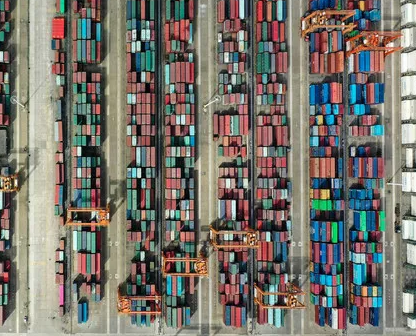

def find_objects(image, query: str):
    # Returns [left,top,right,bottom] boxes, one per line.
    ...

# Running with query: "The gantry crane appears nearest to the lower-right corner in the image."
[253,282,305,309]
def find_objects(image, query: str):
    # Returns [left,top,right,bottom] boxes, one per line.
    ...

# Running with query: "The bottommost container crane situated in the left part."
[117,286,162,315]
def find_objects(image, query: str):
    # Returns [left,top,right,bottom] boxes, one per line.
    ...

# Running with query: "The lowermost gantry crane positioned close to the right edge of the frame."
[346,32,402,58]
